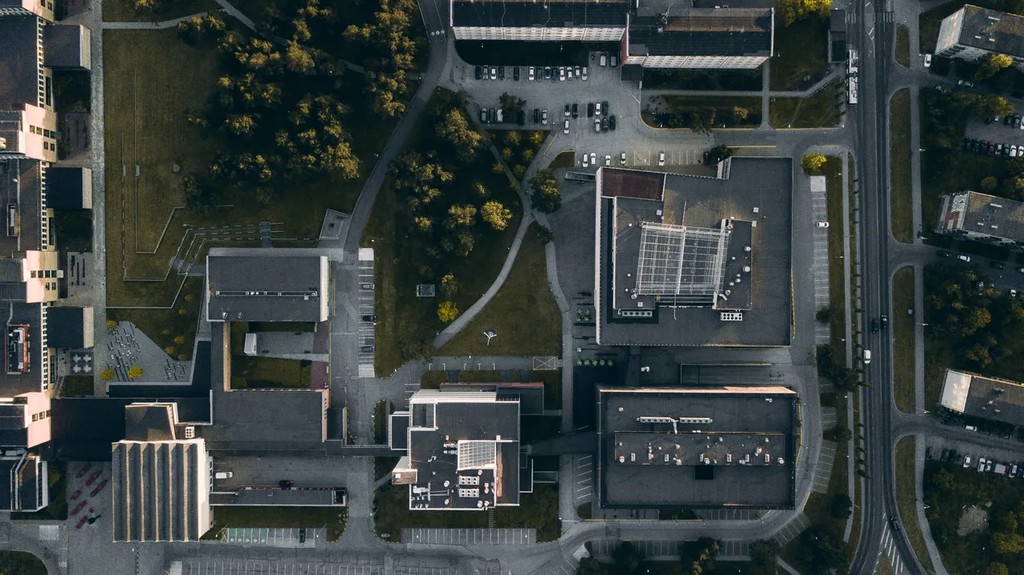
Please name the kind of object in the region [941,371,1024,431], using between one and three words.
building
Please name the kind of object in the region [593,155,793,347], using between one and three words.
building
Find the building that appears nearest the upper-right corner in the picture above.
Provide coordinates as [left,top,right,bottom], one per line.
[936,5,1024,79]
